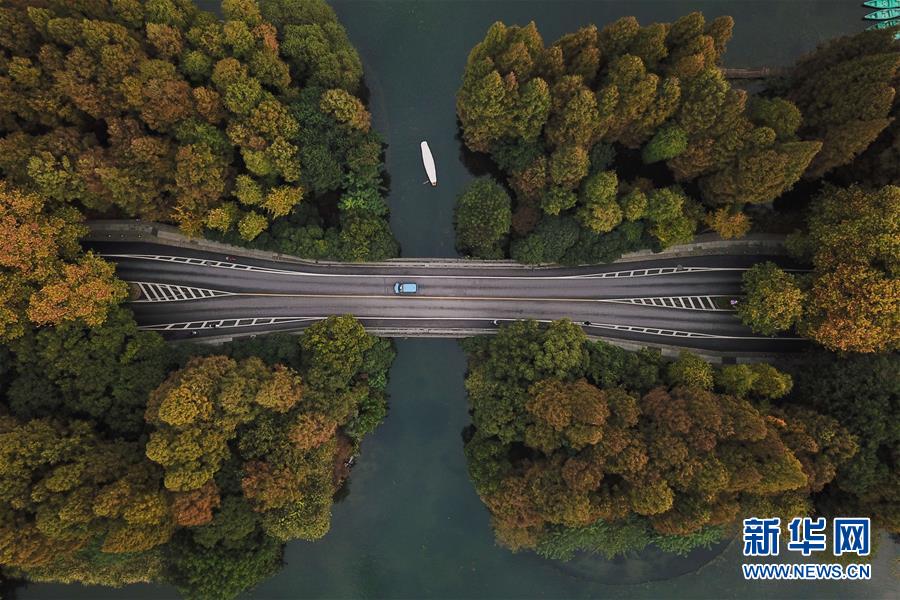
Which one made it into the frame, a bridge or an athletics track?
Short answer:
bridge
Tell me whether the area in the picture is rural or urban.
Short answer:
rural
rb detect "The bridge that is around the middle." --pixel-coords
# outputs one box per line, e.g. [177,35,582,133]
[391,258,477,337]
